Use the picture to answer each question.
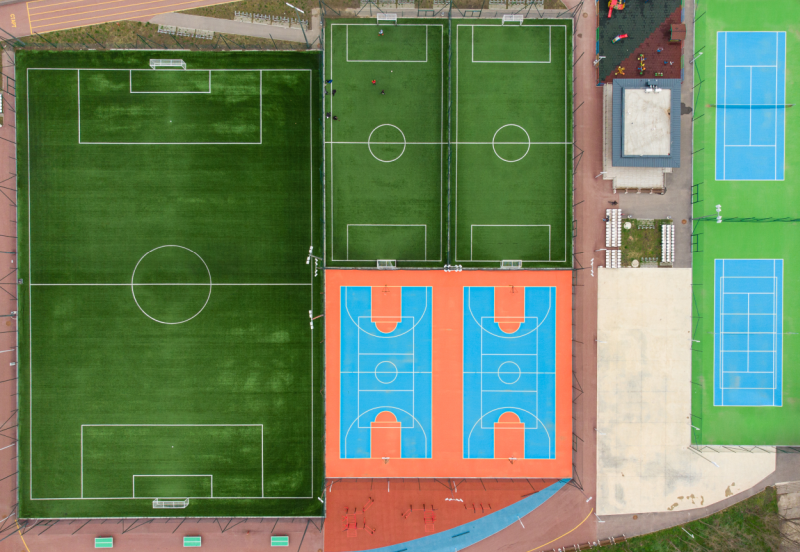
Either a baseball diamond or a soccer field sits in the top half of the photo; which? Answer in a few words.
soccer field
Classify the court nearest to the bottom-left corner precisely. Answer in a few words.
basketball court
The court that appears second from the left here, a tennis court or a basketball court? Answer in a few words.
basketball court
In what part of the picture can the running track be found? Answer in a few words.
top left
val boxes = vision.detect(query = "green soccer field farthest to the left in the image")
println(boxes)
[16,51,324,518]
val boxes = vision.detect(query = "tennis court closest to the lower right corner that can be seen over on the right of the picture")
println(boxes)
[693,219,800,445]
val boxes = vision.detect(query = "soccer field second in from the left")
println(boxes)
[326,19,446,267]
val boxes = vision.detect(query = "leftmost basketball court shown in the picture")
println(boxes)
[326,269,448,479]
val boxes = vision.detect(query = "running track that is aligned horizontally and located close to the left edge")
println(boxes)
[0,0,252,42]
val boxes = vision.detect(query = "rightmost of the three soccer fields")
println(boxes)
[449,19,573,267]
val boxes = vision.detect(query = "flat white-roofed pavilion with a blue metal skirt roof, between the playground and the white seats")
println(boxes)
[598,78,680,194]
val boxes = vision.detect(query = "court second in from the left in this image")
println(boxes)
[448,269,573,479]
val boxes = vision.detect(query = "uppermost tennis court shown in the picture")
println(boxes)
[693,0,800,219]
